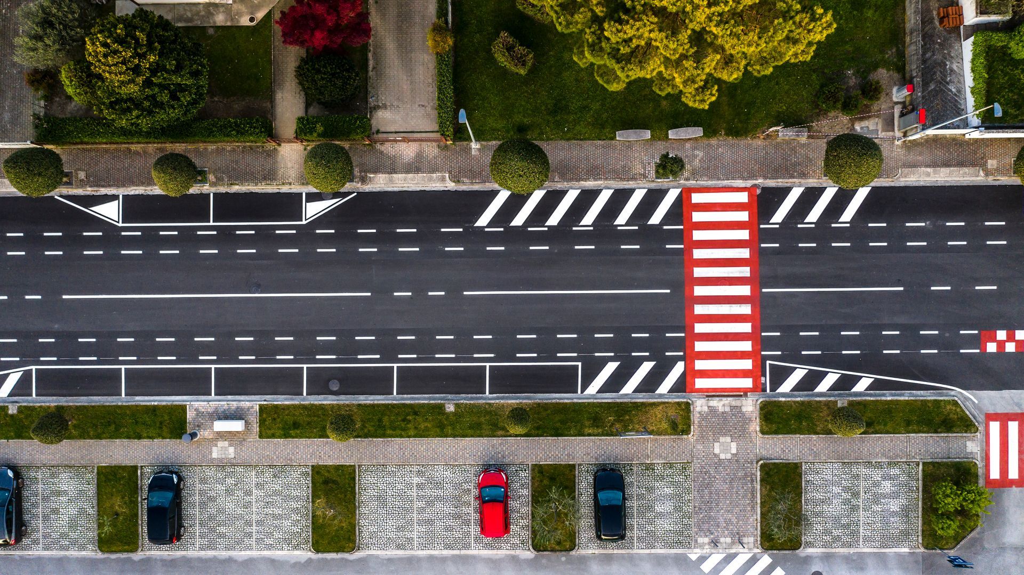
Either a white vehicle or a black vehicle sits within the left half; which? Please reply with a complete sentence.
Visible within the left half is a black vehicle.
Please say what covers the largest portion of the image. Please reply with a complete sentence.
What you mostly see from above here is paved ground.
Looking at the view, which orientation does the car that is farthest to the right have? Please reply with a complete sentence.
The car that is farthest to the right has been laid out vertically relative to the frame.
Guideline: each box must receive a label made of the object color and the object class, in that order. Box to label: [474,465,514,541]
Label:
red car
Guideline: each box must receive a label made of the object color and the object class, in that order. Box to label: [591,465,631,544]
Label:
black car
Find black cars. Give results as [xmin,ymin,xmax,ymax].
[141,469,185,546]
[0,465,29,550]
[591,465,631,544]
